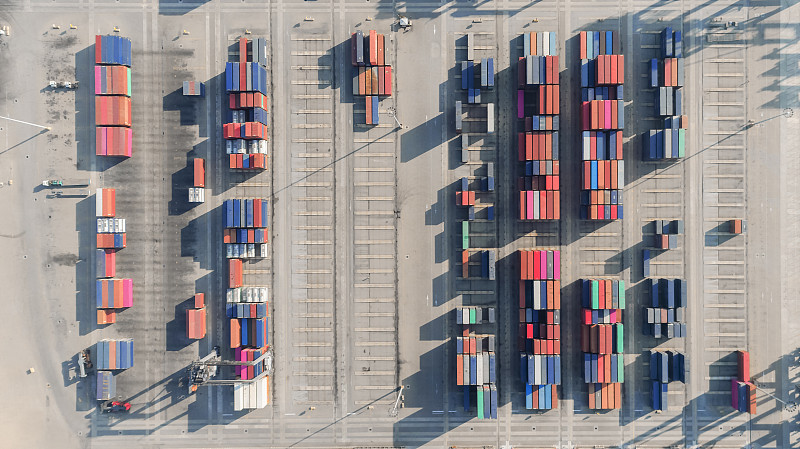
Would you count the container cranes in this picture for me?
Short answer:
1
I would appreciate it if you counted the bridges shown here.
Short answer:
0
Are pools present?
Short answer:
No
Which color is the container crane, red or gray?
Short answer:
gray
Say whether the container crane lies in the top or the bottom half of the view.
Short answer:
bottom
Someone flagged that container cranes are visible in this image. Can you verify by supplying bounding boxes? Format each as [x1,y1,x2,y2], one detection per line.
[187,345,274,393]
